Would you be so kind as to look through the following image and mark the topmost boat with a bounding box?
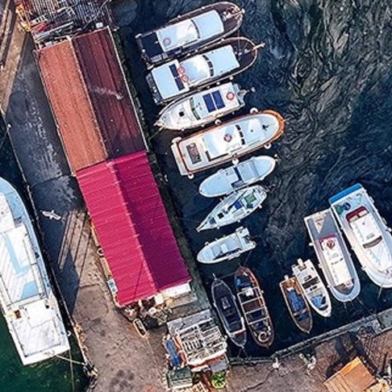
[136,5,245,70]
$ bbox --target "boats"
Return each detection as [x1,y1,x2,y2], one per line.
[171,112,286,177]
[0,175,71,364]
[280,277,310,333]
[236,267,272,346]
[329,182,392,289]
[198,182,268,230]
[304,208,357,301]
[293,260,332,316]
[214,274,246,346]
[198,228,256,261]
[155,83,255,128]
[147,35,265,106]
[136,5,245,70]
[200,155,279,197]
